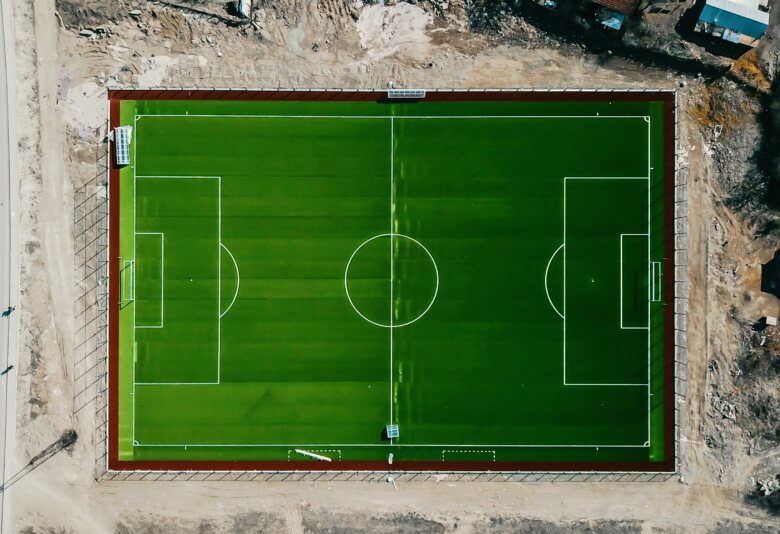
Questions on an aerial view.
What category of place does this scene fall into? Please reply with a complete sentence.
This image shows a sports ground.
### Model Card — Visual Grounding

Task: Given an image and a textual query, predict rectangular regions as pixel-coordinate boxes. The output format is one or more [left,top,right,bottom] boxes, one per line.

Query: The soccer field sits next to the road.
[106,88,677,474]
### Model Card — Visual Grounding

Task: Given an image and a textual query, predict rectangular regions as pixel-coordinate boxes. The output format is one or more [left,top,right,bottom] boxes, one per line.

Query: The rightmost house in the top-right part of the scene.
[689,0,773,52]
